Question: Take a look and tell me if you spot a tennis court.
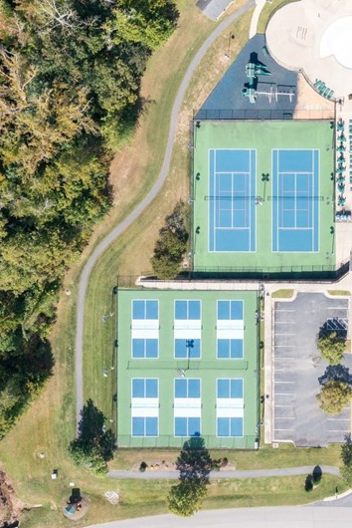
Yes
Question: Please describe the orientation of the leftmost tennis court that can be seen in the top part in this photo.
vertically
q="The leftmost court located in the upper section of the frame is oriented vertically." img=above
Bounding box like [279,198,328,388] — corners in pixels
[194,121,263,275]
